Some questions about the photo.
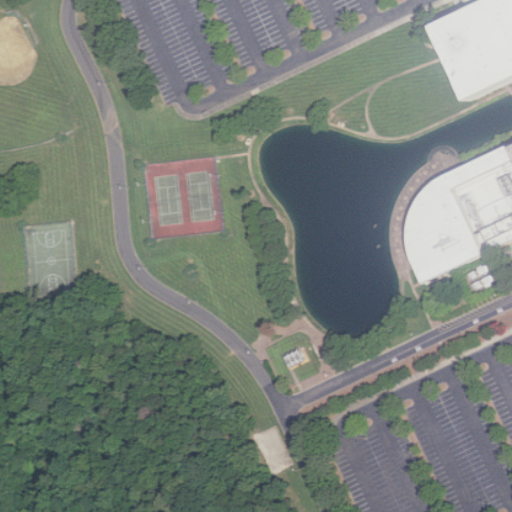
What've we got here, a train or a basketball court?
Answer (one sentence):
Of the two, only a basketball court appears.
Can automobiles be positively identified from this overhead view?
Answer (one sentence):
No, I find no automobile anywhere in the image.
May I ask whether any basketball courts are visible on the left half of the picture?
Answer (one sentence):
Yes, a basketball court shows up on the left half of the picture.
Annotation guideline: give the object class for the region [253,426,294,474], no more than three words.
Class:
sports court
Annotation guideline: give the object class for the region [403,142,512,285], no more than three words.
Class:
building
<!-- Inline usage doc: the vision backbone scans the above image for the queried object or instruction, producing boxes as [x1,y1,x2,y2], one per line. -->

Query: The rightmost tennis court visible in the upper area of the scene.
[182,158,223,234]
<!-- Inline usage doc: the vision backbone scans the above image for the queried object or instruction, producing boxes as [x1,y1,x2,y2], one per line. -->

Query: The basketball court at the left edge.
[24,220,78,300]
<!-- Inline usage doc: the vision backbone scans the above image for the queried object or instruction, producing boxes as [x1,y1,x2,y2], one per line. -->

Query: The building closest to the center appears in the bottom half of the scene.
[283,347,310,372]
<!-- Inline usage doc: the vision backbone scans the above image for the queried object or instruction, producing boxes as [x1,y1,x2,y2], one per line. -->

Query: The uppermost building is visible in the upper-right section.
[424,0,512,105]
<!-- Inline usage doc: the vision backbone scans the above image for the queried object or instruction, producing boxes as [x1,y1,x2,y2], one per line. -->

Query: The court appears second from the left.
[146,162,188,238]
